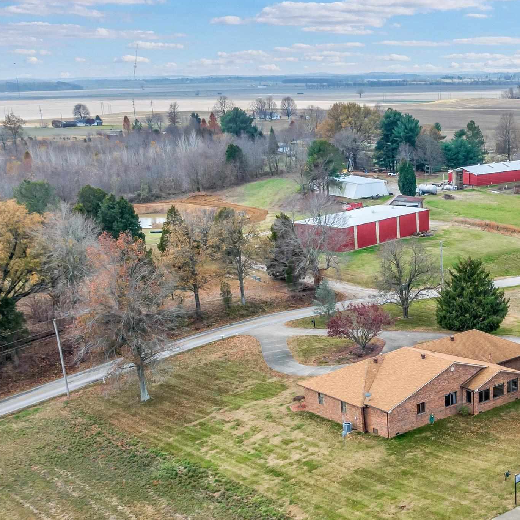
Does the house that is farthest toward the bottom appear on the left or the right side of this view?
right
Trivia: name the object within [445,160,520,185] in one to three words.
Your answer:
shed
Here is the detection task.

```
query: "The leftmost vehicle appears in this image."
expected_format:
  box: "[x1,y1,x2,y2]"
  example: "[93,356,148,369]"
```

[335,199,365,213]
